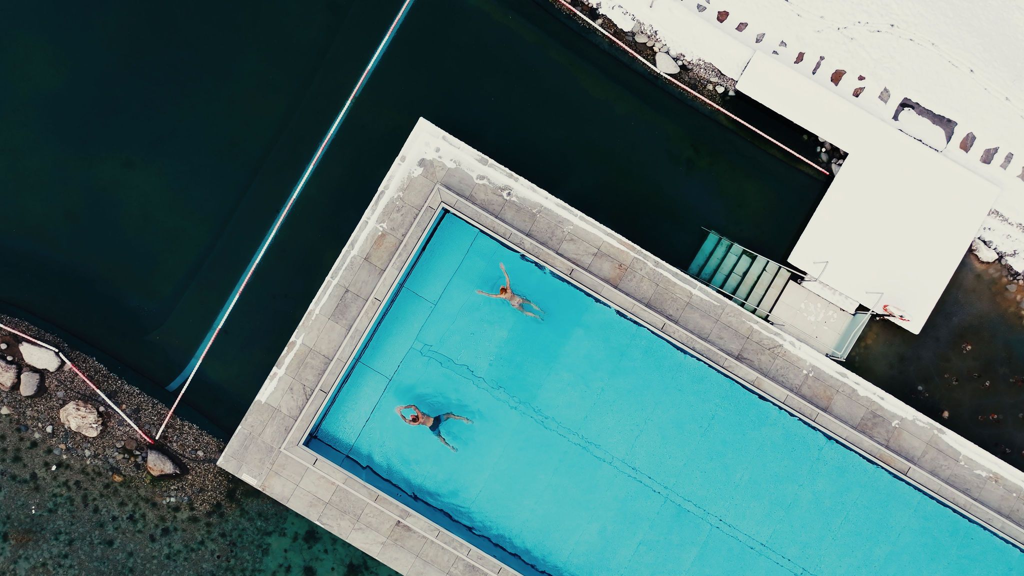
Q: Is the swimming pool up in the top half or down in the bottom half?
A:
bottom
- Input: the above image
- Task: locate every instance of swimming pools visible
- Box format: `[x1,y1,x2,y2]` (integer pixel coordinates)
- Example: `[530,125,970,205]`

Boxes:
[305,207,1024,576]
